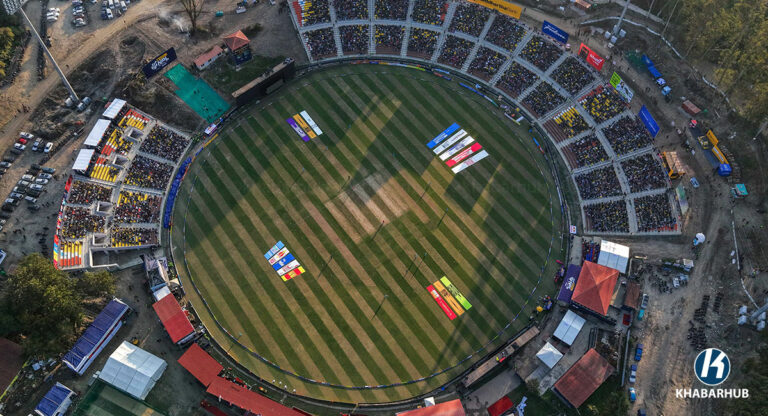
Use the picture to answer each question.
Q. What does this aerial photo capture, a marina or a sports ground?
sports ground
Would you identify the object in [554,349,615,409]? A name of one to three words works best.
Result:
building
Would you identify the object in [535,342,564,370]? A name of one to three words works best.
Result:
gazebo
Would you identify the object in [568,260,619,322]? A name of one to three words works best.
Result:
building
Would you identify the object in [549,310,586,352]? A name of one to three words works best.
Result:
tent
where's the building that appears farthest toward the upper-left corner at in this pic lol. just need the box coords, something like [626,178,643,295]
[194,45,224,71]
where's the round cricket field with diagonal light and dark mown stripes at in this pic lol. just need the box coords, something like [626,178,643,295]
[171,61,570,403]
